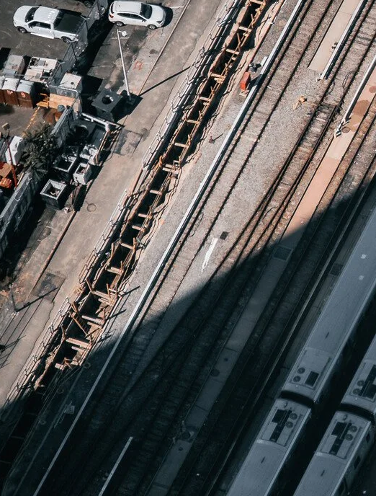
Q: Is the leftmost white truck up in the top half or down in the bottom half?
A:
top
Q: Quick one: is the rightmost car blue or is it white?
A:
white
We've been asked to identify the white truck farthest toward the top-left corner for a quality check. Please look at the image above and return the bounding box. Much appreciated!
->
[11,8,88,47]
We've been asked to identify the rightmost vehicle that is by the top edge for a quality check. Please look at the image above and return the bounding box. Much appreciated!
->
[106,0,169,35]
